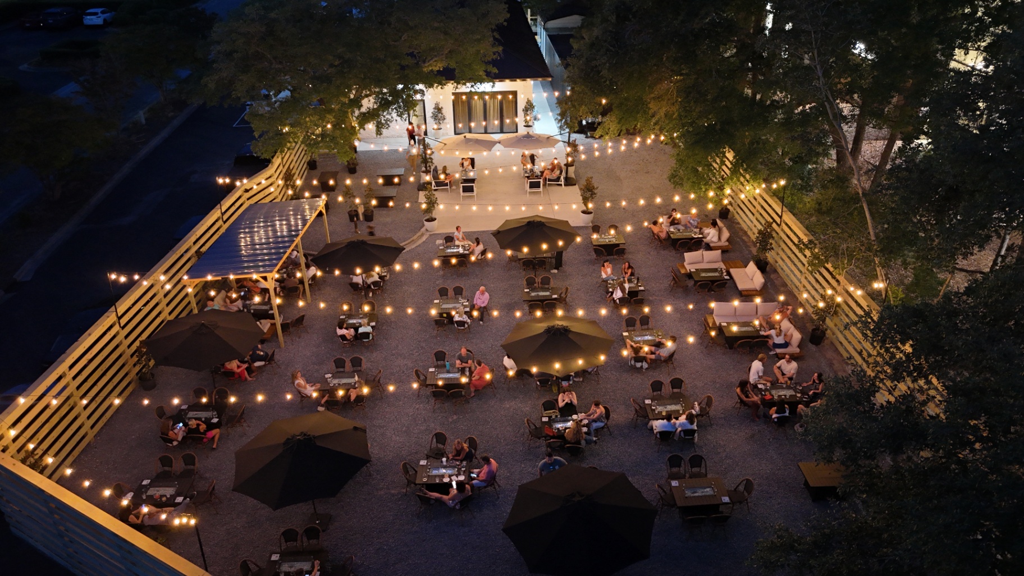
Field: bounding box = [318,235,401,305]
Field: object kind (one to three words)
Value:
umbrella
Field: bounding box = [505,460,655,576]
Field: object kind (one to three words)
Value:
umbrella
